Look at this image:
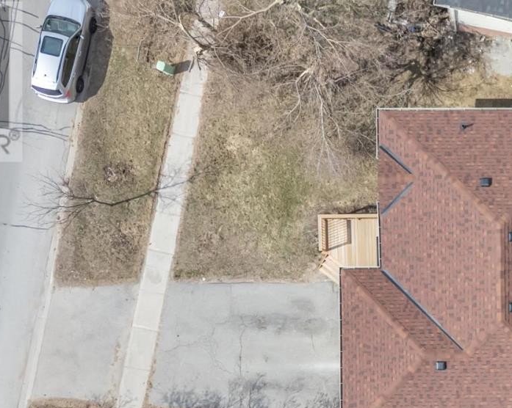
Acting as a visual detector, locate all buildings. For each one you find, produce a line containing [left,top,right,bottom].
[338,105,512,408]
[430,0,512,40]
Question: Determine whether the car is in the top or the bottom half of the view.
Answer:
top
